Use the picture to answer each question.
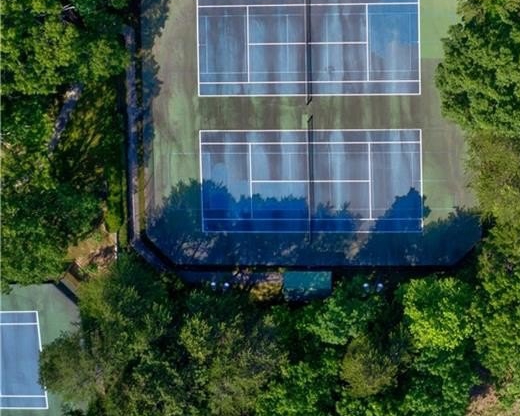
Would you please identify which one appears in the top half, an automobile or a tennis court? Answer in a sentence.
What appears in the top half is a tennis court.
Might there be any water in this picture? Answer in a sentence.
No, there's no water in this view.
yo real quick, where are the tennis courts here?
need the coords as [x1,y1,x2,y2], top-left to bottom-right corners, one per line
[0,311,47,409]
[197,0,421,97]
[200,129,423,233]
